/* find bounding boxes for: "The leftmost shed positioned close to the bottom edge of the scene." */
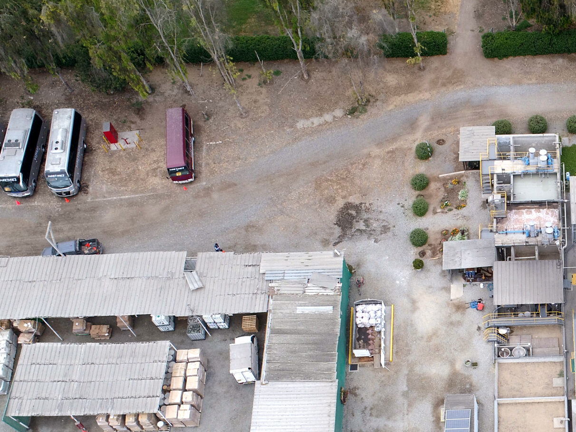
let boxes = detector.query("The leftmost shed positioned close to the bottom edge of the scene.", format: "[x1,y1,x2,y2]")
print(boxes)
[4,341,179,432]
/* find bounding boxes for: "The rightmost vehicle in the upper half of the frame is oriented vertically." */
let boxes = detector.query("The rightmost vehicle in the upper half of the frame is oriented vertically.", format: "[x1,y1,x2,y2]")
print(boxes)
[164,108,198,188]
